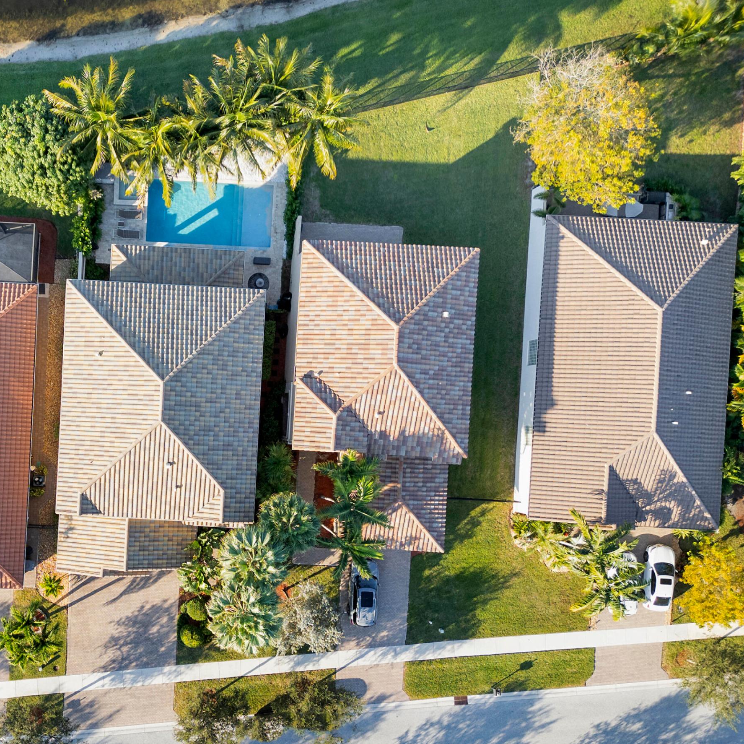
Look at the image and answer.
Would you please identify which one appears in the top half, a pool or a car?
pool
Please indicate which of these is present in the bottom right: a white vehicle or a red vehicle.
white vehicle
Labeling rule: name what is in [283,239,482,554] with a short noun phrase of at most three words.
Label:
house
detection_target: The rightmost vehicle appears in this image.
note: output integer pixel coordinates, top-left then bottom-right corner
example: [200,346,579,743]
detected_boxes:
[639,541,677,612]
